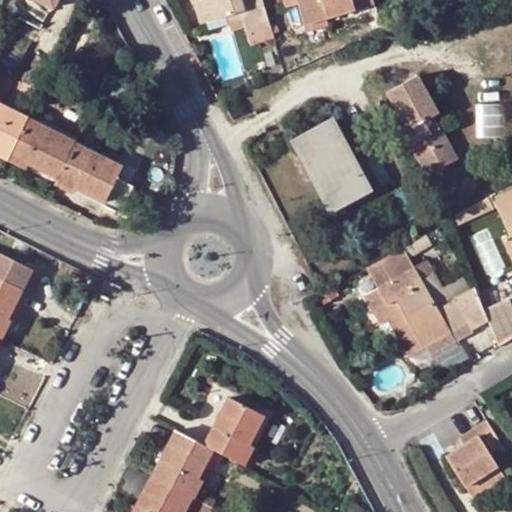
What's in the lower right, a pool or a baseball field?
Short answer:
pool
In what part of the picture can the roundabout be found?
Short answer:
center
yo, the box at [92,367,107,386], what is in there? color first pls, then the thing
gray car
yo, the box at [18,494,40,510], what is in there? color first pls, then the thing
white car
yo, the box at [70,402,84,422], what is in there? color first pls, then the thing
white vehicle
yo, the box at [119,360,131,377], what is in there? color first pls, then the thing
white vehicle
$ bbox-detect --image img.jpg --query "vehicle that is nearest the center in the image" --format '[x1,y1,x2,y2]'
[294,274,306,292]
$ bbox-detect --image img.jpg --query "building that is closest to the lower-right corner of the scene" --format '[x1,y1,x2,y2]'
[446,421,504,496]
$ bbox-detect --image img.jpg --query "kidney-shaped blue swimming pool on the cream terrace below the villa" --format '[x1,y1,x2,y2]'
[371,362,405,391]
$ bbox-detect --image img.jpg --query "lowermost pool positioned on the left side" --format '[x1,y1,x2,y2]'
[149,167,164,182]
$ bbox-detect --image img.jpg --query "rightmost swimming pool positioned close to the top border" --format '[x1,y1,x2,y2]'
[287,6,302,26]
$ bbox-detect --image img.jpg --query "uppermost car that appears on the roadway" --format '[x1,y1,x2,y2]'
[154,4,168,24]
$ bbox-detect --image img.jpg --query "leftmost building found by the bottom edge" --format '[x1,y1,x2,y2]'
[134,431,212,512]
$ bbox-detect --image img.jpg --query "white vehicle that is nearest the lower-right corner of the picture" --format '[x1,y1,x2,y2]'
[466,406,480,423]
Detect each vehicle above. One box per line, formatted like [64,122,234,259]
[24,423,38,442]
[44,282,52,298]
[454,414,470,434]
[55,369,68,388]
[70,454,84,472]
[132,338,144,356]
[60,426,74,444]
[50,450,64,470]
[70,402,84,422]
[154,4,168,24]
[92,367,107,386]
[294,274,306,292]
[466,406,480,423]
[109,382,122,401]
[18,494,40,510]
[66,342,78,360]
[119,360,131,377]
[478,92,500,102]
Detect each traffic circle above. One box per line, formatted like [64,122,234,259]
[163,211,257,305]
